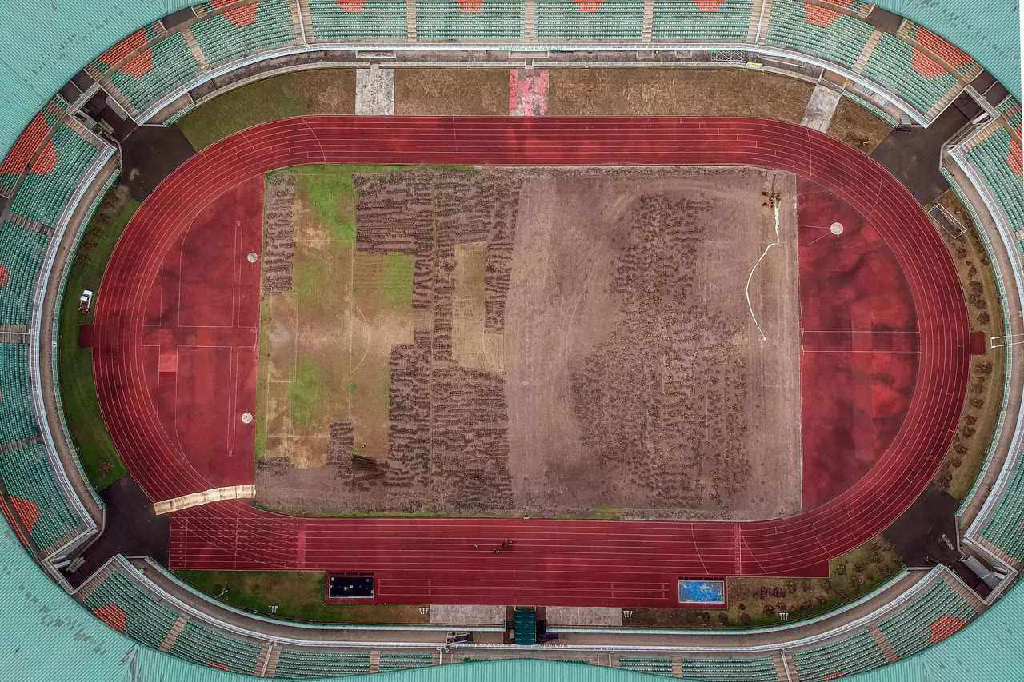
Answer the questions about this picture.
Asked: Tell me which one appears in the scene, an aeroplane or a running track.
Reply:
running track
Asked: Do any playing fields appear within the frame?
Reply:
Yes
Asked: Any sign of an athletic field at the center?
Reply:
Yes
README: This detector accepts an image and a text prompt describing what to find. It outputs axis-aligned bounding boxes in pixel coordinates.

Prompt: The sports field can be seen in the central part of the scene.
[255,163,800,525]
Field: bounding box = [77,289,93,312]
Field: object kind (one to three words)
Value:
vehicle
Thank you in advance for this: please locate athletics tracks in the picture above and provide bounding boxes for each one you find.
[78,113,985,610]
